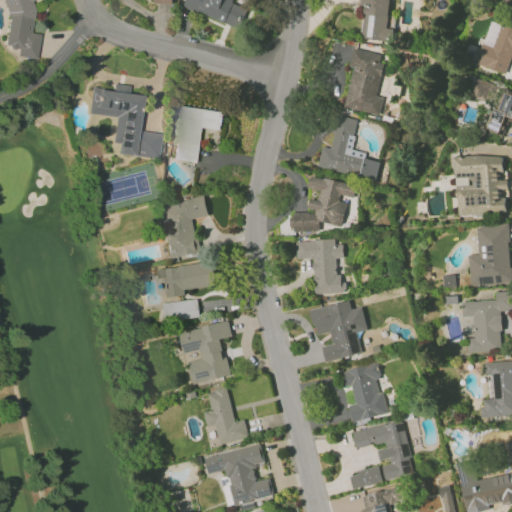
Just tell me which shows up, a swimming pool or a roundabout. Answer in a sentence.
The one in the frame is a swimming pool.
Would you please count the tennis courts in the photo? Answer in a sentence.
The photo contains exactly 1 tennis court.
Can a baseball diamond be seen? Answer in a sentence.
No, there isn't any baseball diamond down there.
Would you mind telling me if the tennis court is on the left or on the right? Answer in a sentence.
You can find the tennis court on the left side of the picture.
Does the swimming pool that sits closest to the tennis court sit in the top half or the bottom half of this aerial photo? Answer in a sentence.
The swimming pool that sits closest to the tennis court sits in the top half of the picture.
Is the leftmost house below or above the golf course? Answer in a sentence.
In the image, the leftmost house appears above the golf course.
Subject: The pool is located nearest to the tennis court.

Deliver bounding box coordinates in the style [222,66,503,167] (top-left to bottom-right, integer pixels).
[166,160,192,187]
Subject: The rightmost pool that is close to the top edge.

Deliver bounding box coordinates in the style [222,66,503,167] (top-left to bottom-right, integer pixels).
[402,0,414,26]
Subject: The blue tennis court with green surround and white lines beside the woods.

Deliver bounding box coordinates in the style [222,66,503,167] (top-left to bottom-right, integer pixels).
[97,162,162,211]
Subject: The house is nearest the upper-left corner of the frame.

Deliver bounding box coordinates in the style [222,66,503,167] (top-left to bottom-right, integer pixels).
[4,0,43,58]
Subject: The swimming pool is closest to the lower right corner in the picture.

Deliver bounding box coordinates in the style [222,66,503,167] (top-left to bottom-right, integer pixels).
[452,428,470,458]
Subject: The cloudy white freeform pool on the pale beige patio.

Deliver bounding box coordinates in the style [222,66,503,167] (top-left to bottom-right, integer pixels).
[169,467,192,486]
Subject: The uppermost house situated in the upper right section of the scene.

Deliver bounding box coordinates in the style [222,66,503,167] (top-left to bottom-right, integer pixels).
[362,0,392,46]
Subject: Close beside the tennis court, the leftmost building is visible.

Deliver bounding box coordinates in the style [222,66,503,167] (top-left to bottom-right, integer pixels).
[92,82,164,158]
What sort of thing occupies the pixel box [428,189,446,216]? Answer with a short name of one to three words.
swimming pool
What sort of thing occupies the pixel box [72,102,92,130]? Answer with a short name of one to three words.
swimming pool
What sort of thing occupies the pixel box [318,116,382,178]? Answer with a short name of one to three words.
house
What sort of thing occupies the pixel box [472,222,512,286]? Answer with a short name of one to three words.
house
